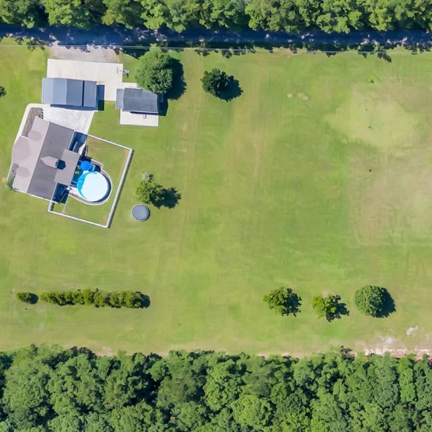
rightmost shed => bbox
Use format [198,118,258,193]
[116,87,159,112]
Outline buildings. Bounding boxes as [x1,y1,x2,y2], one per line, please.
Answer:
[116,87,159,112]
[40,77,99,107]
[12,118,84,200]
